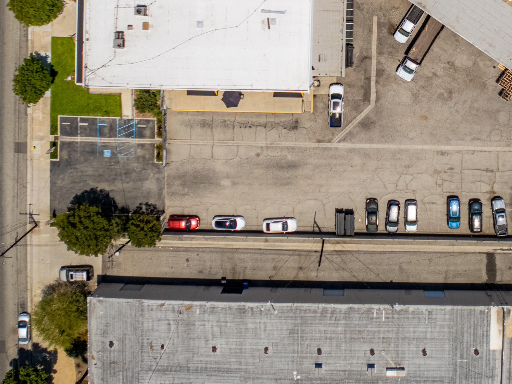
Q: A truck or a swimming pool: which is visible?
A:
truck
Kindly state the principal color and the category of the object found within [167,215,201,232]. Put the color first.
red car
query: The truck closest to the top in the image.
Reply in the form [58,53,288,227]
[392,3,423,46]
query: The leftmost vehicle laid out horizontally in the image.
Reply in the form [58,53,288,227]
[59,265,95,282]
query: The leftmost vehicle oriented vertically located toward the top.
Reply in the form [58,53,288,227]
[328,83,345,128]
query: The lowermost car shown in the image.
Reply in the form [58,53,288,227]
[16,311,33,345]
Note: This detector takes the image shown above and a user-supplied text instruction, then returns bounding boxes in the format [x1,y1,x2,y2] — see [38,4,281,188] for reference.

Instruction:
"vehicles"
[16,311,33,345]
[492,197,508,236]
[384,199,400,234]
[328,83,345,128]
[59,265,95,282]
[212,215,247,230]
[263,217,297,234]
[399,17,444,80]
[467,198,484,233]
[445,195,462,228]
[392,3,423,46]
[403,198,419,233]
[364,197,380,232]
[167,215,201,232]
